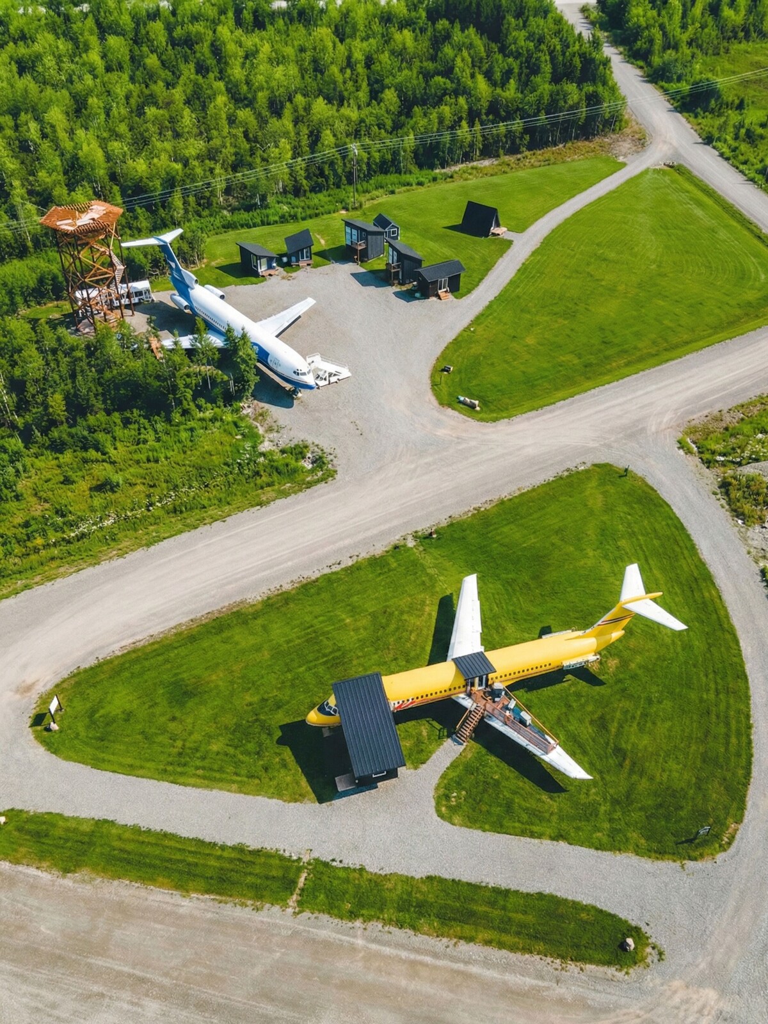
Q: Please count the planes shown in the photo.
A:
2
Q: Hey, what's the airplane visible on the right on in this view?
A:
grass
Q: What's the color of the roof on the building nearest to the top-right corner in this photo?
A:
black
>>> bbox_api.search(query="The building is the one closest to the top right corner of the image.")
[458,195,514,239]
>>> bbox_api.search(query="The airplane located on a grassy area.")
[380,563,689,780]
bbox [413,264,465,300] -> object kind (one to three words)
building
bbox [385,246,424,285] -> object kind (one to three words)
building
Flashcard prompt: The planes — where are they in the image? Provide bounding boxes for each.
[380,563,689,780]
[121,228,316,394]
